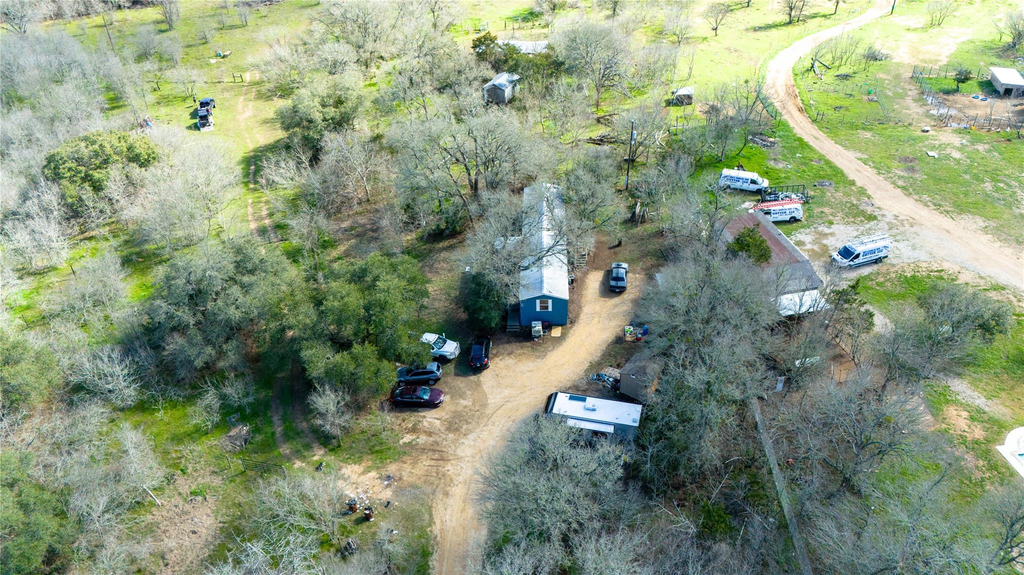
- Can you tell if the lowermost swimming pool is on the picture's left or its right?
right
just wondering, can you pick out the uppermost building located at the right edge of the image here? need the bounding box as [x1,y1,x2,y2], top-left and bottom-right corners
[983,67,1024,101]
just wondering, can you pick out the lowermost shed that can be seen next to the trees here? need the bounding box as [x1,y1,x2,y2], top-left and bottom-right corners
[619,350,681,409]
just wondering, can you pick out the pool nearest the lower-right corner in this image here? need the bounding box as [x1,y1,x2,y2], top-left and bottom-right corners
[996,424,1024,471]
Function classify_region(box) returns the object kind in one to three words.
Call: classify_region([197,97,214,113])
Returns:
vehicle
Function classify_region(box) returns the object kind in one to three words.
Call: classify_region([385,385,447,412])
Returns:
car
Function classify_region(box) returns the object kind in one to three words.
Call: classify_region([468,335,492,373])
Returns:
car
